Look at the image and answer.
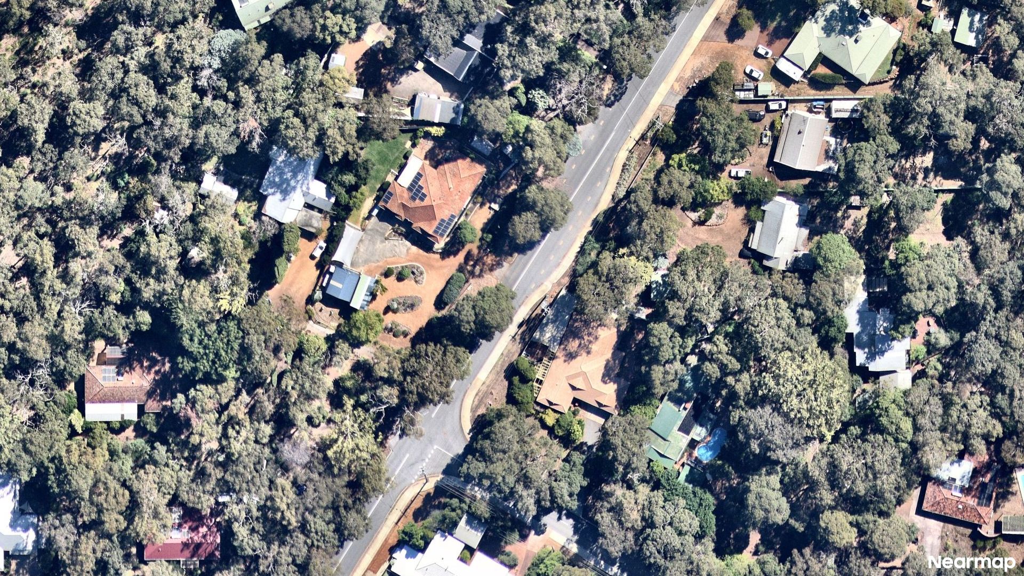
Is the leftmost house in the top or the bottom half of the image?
bottom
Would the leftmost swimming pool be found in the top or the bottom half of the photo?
bottom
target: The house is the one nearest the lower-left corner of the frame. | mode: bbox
[0,476,37,568]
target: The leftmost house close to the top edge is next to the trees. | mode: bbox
[228,0,295,32]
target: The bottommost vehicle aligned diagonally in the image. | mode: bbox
[310,240,326,259]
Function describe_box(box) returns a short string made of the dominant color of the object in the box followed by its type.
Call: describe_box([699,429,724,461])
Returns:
blue swimming pool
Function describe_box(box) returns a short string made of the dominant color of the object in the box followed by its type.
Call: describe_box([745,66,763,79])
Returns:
white vehicle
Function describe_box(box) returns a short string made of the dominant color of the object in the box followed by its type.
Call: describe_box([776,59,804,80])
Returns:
white camper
